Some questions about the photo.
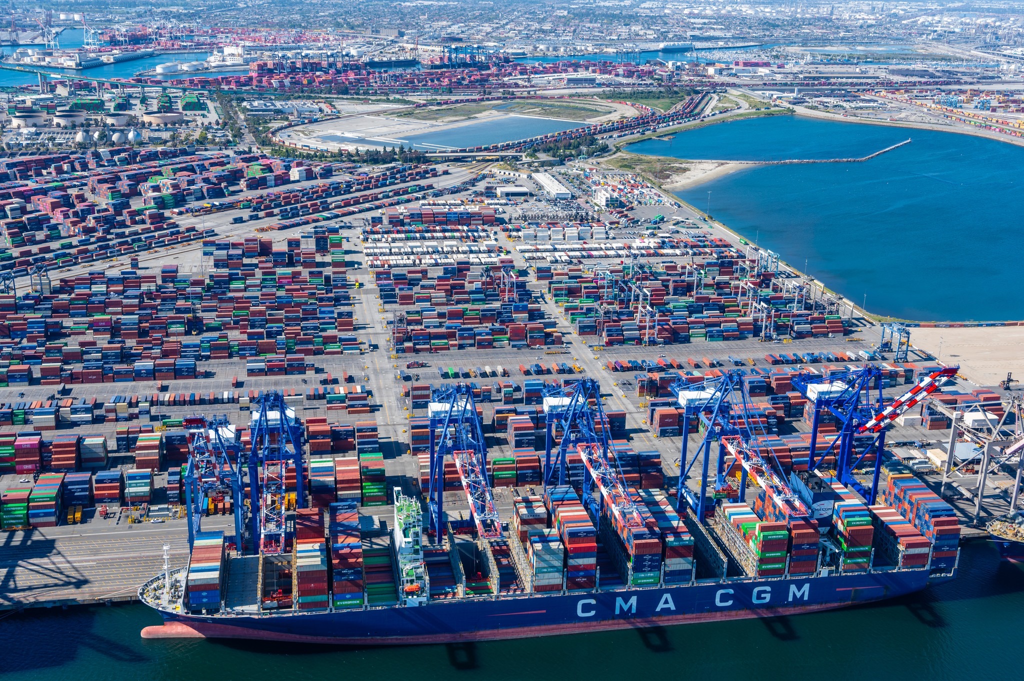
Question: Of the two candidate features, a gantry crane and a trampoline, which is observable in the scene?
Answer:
gantry crane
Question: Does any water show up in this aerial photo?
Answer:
Yes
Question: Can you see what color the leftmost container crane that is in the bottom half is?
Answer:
blue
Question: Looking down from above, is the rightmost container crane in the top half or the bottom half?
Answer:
bottom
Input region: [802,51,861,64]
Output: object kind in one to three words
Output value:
ship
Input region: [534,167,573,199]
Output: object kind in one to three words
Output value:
building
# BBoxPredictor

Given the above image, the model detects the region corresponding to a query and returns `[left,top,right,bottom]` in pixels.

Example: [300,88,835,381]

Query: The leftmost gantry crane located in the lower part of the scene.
[180,412,253,561]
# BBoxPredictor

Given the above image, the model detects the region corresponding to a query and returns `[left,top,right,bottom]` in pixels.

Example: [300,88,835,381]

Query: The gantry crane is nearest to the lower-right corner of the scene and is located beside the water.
[932,394,1024,532]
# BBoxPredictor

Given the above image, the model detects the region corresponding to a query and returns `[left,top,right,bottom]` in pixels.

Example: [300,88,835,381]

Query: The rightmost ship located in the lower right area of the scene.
[961,513,1024,565]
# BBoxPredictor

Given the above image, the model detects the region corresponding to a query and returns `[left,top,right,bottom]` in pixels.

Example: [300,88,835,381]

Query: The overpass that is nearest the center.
[403,150,566,171]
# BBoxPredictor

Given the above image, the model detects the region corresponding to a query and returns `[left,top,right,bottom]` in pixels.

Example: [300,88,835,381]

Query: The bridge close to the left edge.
[0,64,287,98]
